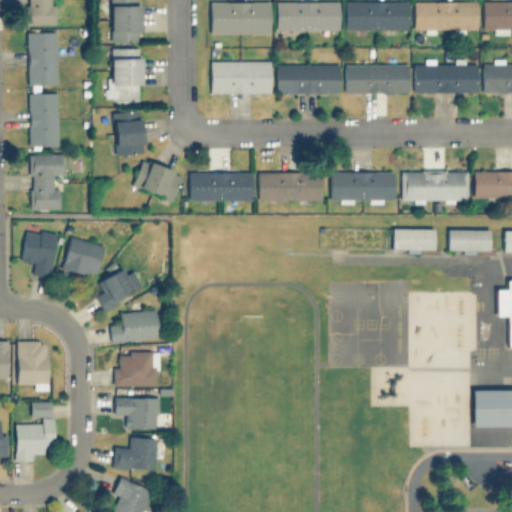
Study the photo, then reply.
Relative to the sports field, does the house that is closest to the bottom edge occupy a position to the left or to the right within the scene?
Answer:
on its left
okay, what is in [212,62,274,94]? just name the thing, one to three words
house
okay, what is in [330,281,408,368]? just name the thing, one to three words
sports court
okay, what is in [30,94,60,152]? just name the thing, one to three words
house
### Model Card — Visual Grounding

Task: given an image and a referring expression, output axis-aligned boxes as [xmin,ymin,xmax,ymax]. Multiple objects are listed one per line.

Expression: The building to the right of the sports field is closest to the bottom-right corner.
[475,390,512,429]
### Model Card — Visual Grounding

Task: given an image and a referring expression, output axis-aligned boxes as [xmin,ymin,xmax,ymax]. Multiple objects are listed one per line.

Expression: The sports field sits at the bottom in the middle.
[188,286,316,512]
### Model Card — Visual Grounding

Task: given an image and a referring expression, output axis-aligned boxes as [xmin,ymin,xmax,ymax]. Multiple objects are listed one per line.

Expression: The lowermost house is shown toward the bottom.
[110,476,156,512]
